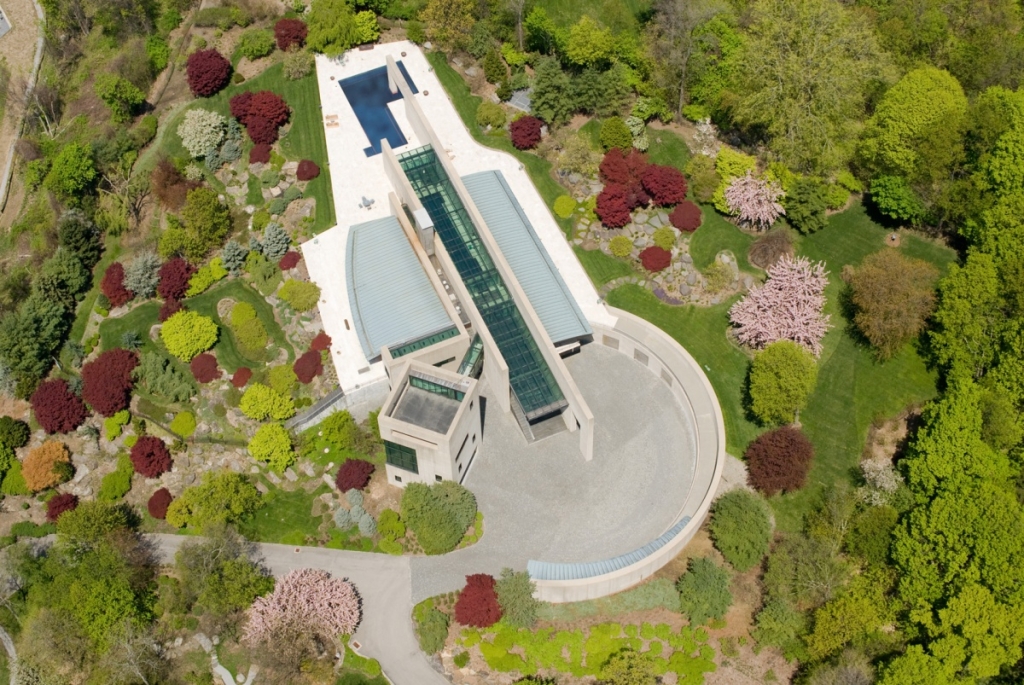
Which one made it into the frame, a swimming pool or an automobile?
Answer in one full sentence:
Of the two, only a swimming pool appears.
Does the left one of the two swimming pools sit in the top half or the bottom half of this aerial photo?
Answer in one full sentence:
It is in the top half that the left one of the two swimming pools appears.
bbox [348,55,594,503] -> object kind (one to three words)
house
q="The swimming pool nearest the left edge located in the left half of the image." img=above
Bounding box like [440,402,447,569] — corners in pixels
[340,62,418,156]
